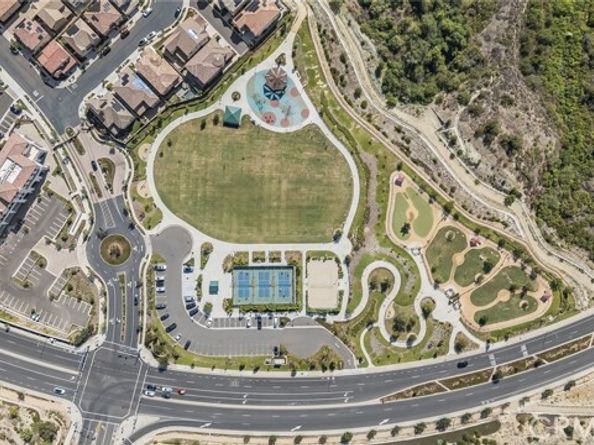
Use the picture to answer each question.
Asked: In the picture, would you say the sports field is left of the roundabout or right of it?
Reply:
right of it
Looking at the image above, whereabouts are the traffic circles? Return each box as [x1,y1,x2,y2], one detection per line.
[99,234,131,266]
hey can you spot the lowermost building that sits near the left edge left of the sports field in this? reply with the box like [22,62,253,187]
[0,132,54,241]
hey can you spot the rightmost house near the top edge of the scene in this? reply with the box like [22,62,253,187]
[235,0,280,34]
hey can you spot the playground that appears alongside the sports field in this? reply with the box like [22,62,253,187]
[247,68,309,128]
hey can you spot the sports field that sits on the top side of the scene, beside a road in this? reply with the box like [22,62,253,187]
[154,110,354,245]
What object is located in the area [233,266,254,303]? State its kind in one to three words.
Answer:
sports court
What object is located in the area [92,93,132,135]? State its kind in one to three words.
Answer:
house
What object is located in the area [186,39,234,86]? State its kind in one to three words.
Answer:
house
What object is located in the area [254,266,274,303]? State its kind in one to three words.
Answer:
sports court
